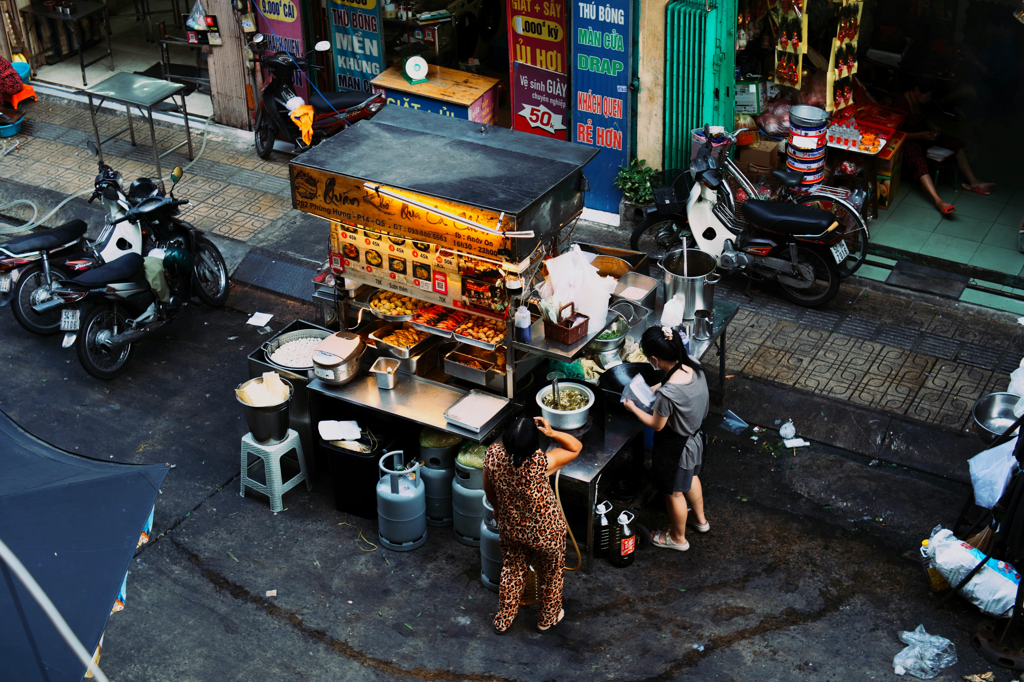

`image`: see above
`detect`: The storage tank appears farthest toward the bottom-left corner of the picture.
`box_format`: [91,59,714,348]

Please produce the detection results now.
[377,470,427,540]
